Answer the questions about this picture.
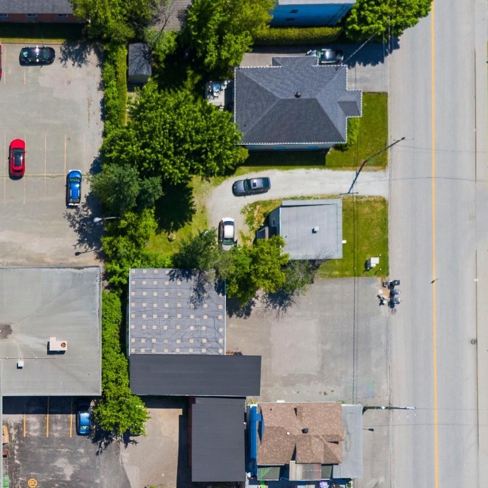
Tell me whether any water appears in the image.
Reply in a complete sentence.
No, there is no water in the image.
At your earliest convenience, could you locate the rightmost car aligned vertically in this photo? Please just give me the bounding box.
[218,217,235,254]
